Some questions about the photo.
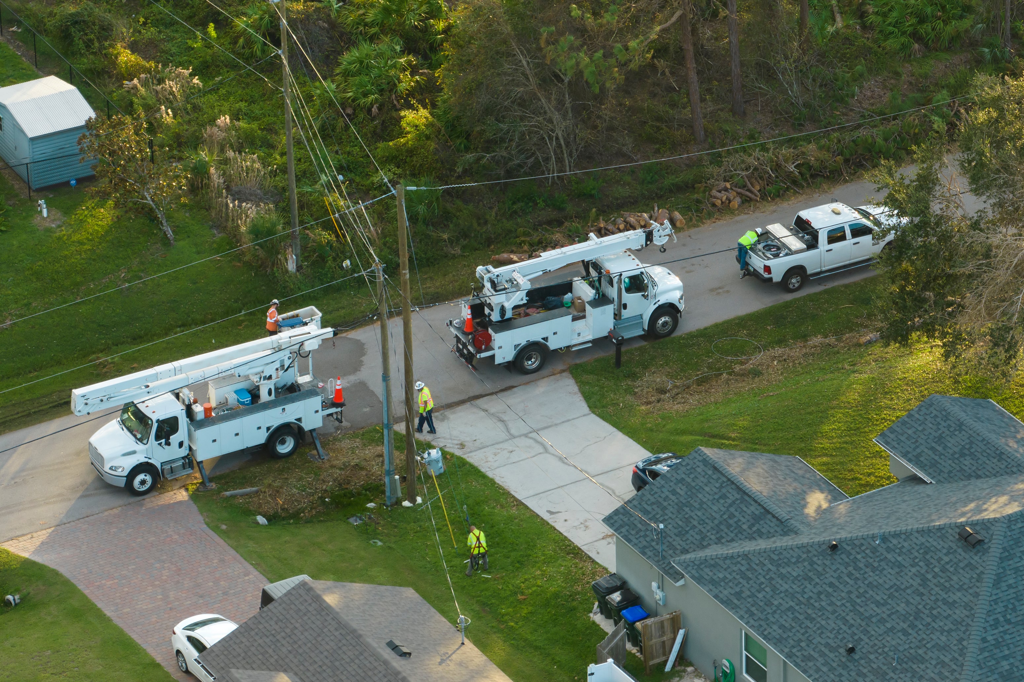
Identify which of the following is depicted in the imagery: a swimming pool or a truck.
truck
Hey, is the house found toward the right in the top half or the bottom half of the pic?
bottom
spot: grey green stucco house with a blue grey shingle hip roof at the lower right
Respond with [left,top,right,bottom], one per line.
[600,392,1024,682]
